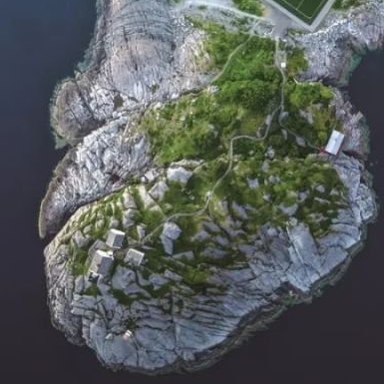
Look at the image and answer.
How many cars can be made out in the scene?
zero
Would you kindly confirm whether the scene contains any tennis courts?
No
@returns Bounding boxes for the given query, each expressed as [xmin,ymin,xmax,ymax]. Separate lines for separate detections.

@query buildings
[107,229,126,248]
[325,130,345,155]
[125,248,144,266]
[89,250,114,277]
